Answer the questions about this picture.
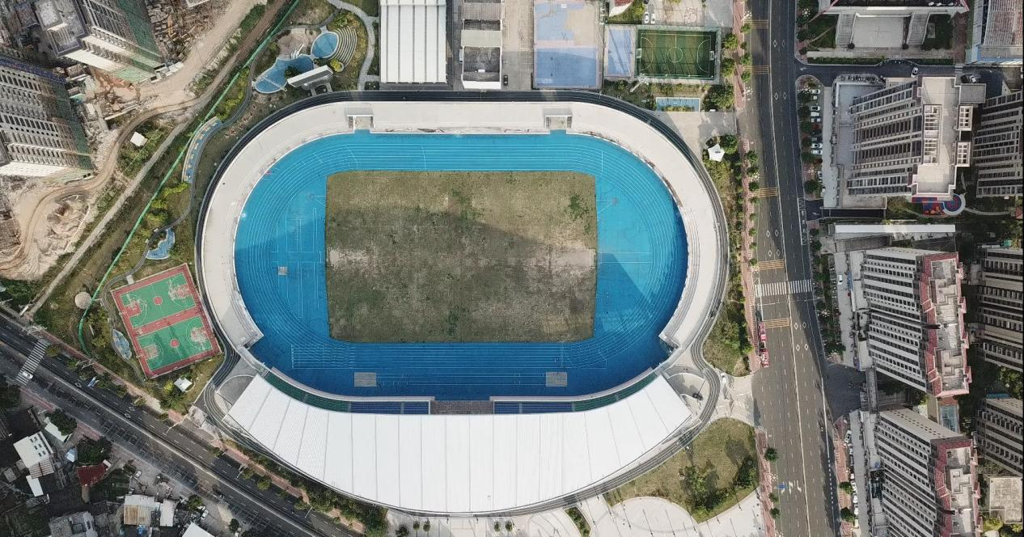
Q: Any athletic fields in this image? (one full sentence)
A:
Yes, an athletic field is visible in the scene.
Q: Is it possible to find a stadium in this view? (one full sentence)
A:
Yes, you can see a stadium in this photo.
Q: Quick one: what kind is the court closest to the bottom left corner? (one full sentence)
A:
What you see as the court closest to the bottom left corner is a basketball court.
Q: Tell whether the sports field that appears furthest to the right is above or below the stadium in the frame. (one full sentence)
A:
The sports field that appears furthest to the right appears above the stadium in the picture.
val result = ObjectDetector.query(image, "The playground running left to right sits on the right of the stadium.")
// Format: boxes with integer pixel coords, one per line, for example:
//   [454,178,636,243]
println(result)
[912,193,967,216]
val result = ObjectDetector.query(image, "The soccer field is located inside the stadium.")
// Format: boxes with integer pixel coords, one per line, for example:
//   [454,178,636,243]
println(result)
[325,170,596,343]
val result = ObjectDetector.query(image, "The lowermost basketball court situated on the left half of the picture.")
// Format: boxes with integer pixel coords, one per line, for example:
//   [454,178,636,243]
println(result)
[112,264,221,379]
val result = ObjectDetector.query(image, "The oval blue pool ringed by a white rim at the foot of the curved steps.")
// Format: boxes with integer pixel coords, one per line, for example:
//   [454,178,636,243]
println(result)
[310,31,340,58]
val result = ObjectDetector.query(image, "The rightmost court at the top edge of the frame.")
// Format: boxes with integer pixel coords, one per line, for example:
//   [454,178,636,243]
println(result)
[604,23,633,89]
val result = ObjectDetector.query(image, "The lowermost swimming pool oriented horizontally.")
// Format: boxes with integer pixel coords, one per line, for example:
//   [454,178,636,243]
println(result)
[656,96,702,112]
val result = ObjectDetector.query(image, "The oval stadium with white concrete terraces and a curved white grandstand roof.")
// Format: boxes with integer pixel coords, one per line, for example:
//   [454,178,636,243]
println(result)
[203,102,716,516]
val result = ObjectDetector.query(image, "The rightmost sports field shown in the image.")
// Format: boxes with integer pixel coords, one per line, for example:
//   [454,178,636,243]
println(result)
[633,25,720,84]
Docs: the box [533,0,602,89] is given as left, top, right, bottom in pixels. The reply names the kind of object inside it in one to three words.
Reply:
sports court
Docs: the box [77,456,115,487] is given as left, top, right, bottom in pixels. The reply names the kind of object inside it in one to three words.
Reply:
house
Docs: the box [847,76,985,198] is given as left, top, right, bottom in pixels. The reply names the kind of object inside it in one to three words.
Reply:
building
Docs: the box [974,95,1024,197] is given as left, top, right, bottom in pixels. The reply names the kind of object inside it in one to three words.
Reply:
building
